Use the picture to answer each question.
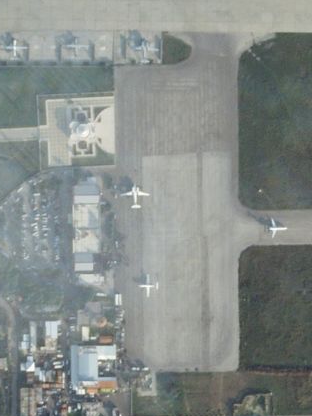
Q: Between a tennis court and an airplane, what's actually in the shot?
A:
airplane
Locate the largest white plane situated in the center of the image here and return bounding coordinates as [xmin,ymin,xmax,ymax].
[121,184,149,208]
